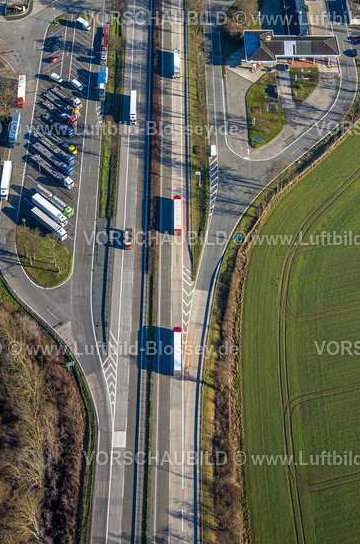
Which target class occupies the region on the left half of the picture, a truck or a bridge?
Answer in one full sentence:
Visible on the left half of the picture is a truck.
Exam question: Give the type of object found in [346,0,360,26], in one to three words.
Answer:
shed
